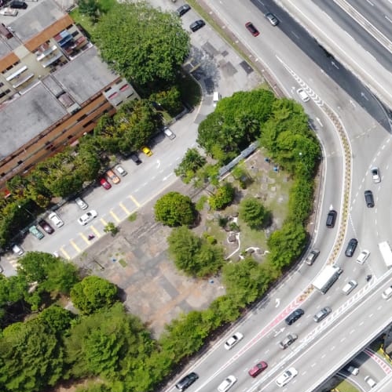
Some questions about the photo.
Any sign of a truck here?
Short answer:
Yes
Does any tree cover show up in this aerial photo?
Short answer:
Yes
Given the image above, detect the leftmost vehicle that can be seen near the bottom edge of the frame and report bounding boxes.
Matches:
[175,373,198,392]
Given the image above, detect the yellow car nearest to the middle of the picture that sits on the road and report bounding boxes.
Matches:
[140,144,154,158]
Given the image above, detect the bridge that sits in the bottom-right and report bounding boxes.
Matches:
[328,341,392,392]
